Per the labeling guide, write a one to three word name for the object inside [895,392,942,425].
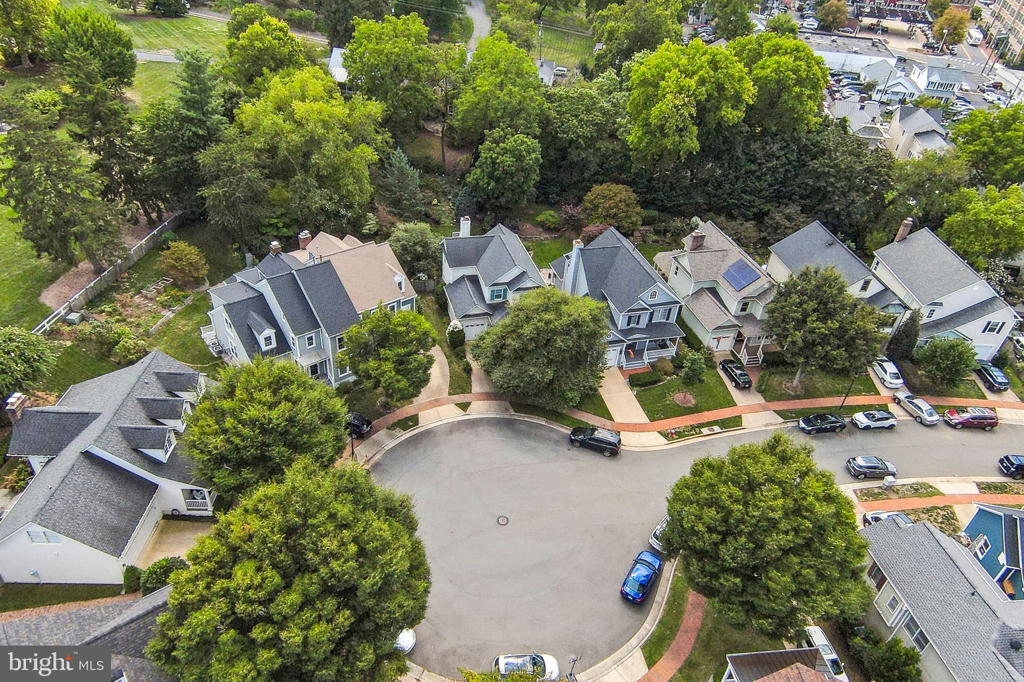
car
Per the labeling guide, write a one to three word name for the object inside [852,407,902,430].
car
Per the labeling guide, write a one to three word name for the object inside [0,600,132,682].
house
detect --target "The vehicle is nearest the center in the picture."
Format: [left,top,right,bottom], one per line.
[568,425,625,458]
